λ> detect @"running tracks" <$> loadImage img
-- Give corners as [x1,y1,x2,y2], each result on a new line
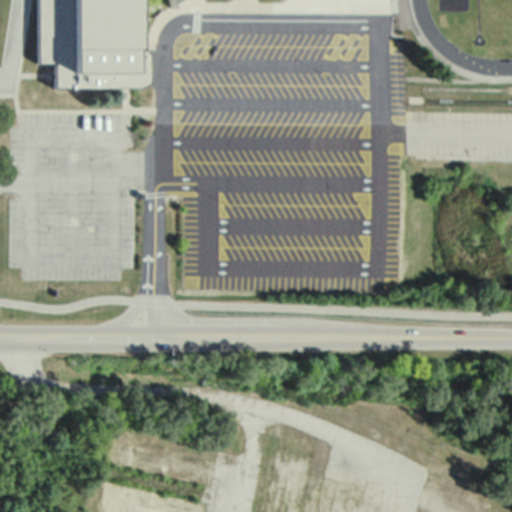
[410,0,512,79]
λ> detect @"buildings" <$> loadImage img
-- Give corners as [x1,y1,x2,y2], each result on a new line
[38,0,153,90]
